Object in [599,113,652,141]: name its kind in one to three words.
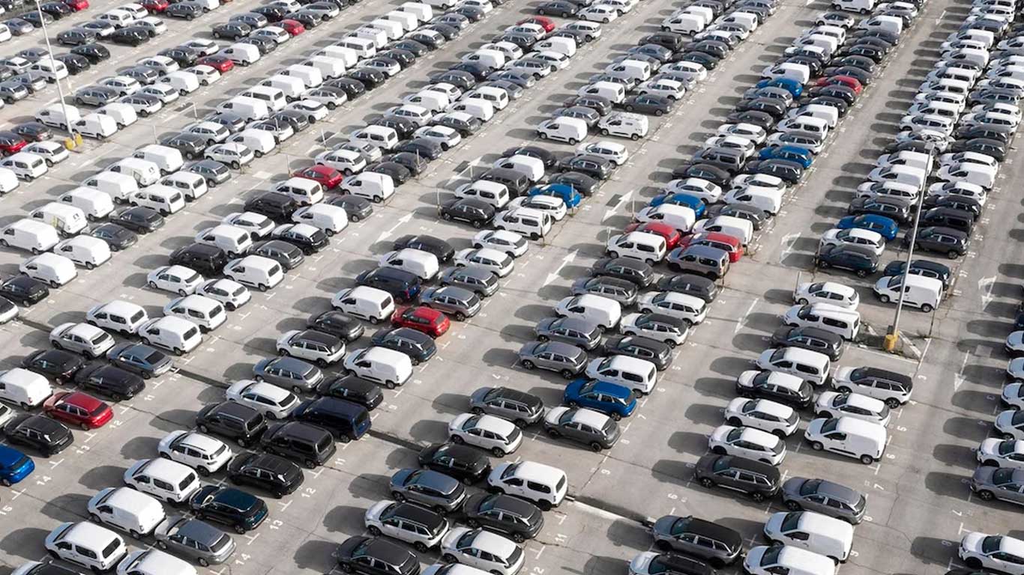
van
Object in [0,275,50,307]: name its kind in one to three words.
car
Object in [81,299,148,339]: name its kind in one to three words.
van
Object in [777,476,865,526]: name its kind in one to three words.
car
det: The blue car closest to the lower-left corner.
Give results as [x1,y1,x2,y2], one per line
[0,444,38,487]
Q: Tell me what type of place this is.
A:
parking lot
